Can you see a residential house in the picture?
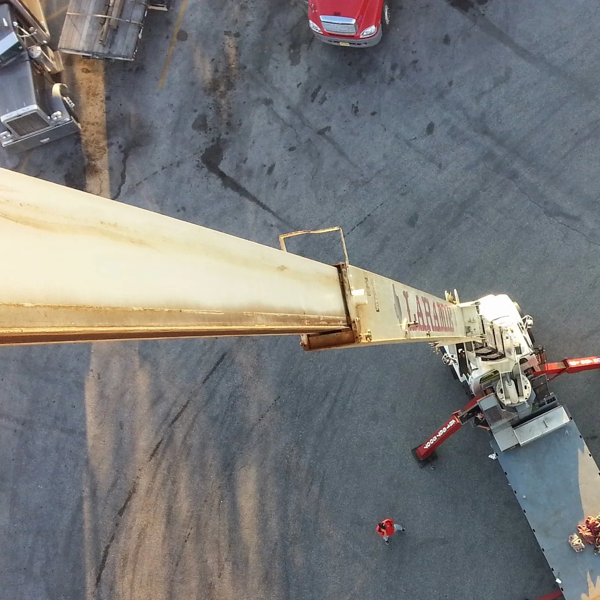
No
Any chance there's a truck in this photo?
Yes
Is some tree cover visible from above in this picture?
No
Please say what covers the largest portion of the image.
paved ground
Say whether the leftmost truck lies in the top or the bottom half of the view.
top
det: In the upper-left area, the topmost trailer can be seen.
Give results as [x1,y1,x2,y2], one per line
[57,0,172,65]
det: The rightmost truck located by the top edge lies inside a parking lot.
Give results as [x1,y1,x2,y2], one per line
[306,0,390,52]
